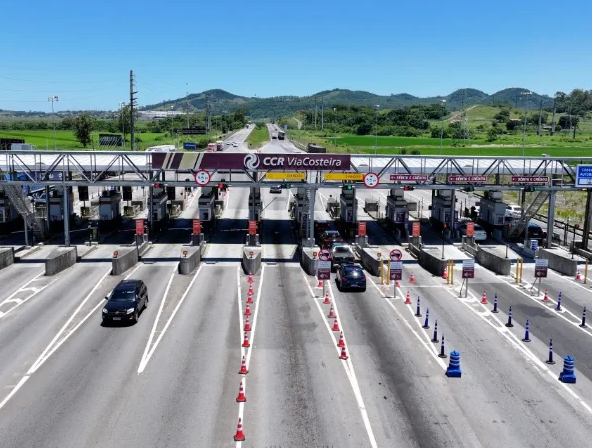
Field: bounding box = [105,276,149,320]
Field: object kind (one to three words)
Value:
car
